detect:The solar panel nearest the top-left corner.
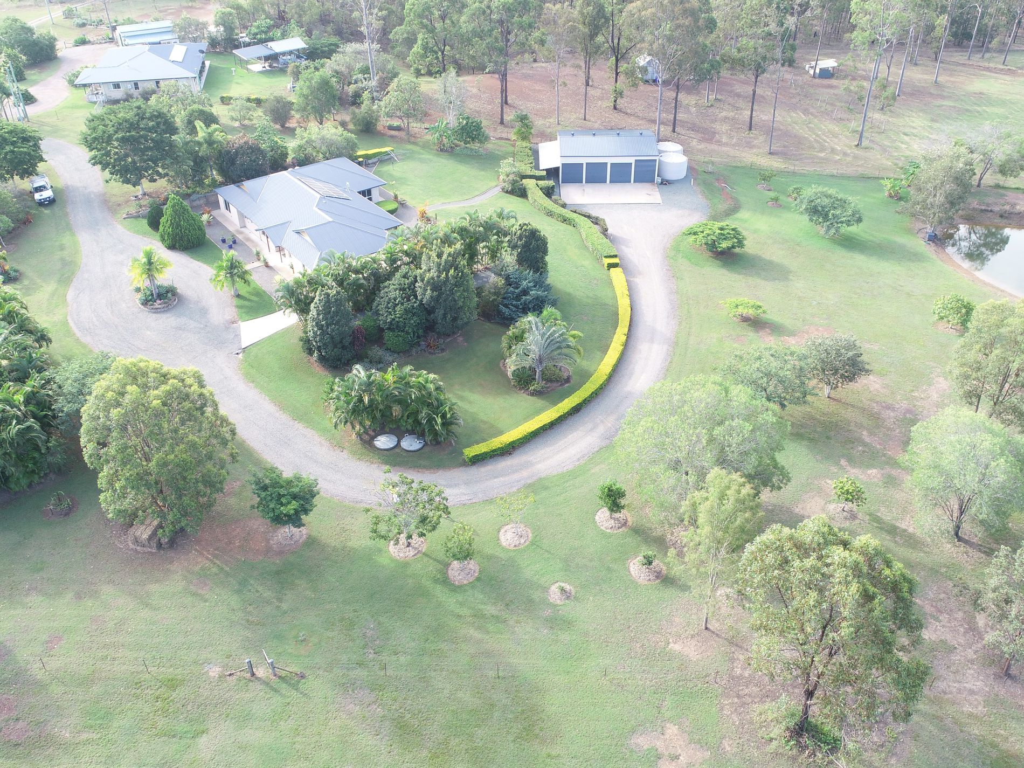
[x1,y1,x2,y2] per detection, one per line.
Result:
[167,43,187,63]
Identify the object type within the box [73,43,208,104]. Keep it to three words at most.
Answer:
house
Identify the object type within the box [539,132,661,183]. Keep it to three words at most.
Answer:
shed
